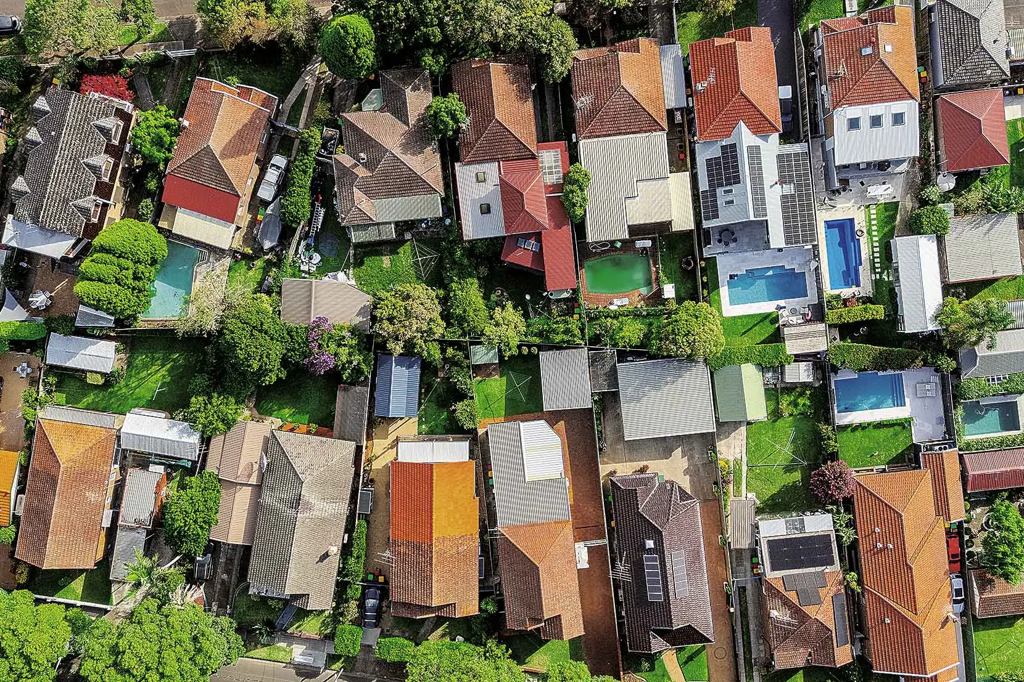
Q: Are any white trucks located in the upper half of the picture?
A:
Yes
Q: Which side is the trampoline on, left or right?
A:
left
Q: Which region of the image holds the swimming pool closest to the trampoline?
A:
left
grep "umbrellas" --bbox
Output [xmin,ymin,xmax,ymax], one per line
[812,254,824,270]
[936,172,955,191]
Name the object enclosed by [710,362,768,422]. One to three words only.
shed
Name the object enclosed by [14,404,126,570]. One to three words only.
house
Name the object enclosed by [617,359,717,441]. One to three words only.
building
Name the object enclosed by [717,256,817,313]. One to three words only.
swimming pool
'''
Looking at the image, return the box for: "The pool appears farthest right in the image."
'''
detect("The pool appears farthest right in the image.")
[955,394,1024,434]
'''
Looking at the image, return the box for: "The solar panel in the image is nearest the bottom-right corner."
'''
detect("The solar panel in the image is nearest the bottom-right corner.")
[834,595,849,646]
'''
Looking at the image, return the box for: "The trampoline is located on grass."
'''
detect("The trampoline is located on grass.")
[317,234,338,255]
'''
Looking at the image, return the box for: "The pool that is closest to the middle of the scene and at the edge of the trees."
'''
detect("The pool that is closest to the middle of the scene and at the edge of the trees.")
[575,242,663,306]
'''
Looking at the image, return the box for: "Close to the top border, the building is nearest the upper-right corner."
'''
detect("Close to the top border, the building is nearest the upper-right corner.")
[923,0,1024,90]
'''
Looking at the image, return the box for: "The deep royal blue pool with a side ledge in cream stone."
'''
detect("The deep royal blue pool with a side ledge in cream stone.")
[818,211,869,295]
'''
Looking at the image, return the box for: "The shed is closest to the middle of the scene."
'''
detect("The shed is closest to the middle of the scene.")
[470,344,499,366]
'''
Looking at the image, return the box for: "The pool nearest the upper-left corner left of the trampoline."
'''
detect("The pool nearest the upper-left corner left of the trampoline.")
[133,233,216,324]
